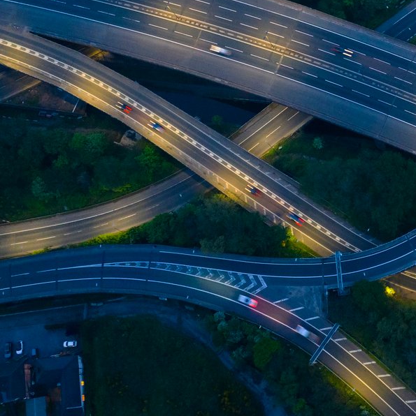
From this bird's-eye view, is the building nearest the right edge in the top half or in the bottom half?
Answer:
bottom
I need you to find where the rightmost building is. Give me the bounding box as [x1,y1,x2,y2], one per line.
[58,355,92,414]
